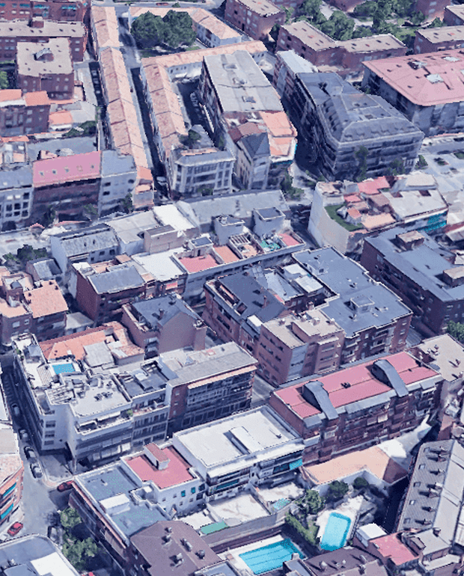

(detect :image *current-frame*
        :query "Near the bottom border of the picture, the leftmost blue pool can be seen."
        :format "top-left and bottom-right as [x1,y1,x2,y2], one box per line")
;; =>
[236,536,309,576]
